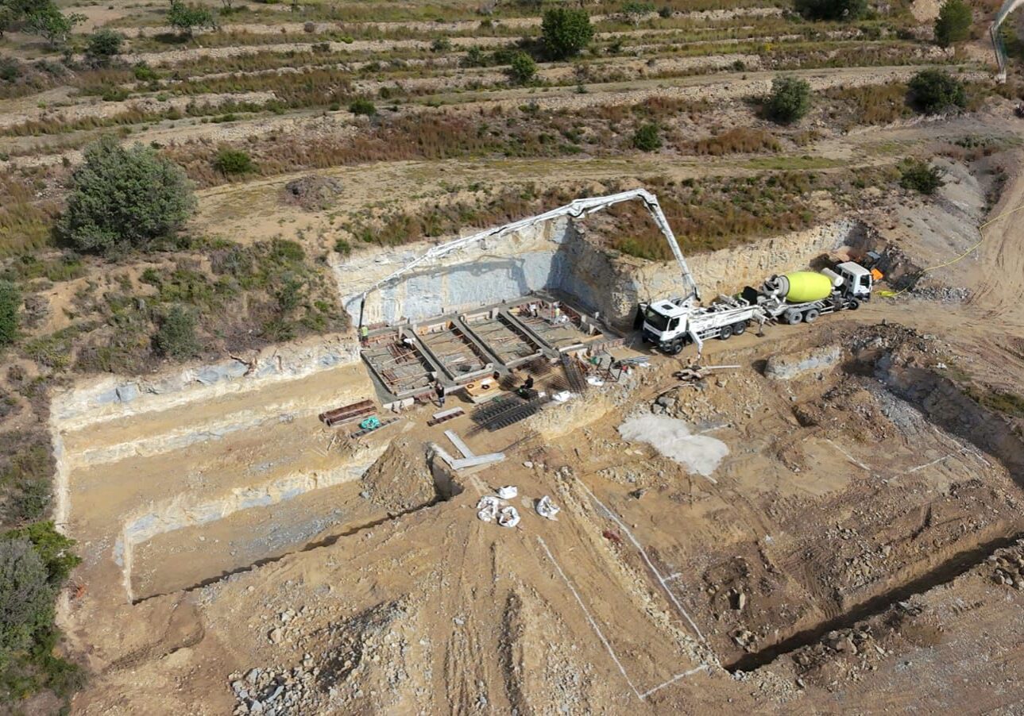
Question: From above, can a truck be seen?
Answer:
Yes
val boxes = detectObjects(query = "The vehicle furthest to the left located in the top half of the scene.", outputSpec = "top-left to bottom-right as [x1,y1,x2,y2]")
[359,187,771,362]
